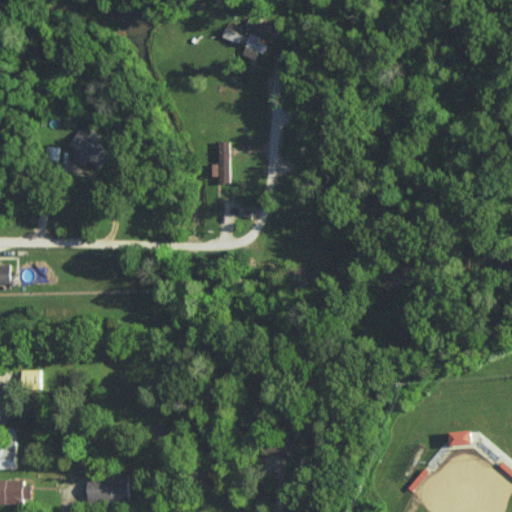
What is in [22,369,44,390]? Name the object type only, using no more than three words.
barn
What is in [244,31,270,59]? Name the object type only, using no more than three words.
house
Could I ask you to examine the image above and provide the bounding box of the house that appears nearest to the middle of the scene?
[210,142,236,183]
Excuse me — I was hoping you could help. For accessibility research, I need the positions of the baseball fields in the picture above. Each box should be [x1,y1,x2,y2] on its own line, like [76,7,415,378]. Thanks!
[372,358,512,512]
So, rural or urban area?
rural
